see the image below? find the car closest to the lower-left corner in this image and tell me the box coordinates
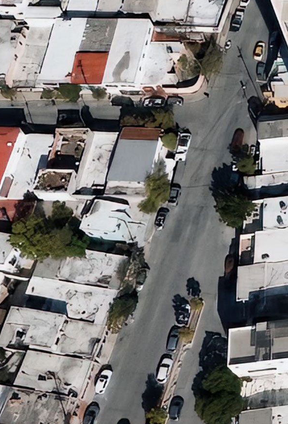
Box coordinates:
[82,401,101,424]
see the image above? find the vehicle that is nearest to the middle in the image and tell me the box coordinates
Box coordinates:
[155,205,171,230]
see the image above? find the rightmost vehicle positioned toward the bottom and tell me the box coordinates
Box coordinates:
[223,253,236,276]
